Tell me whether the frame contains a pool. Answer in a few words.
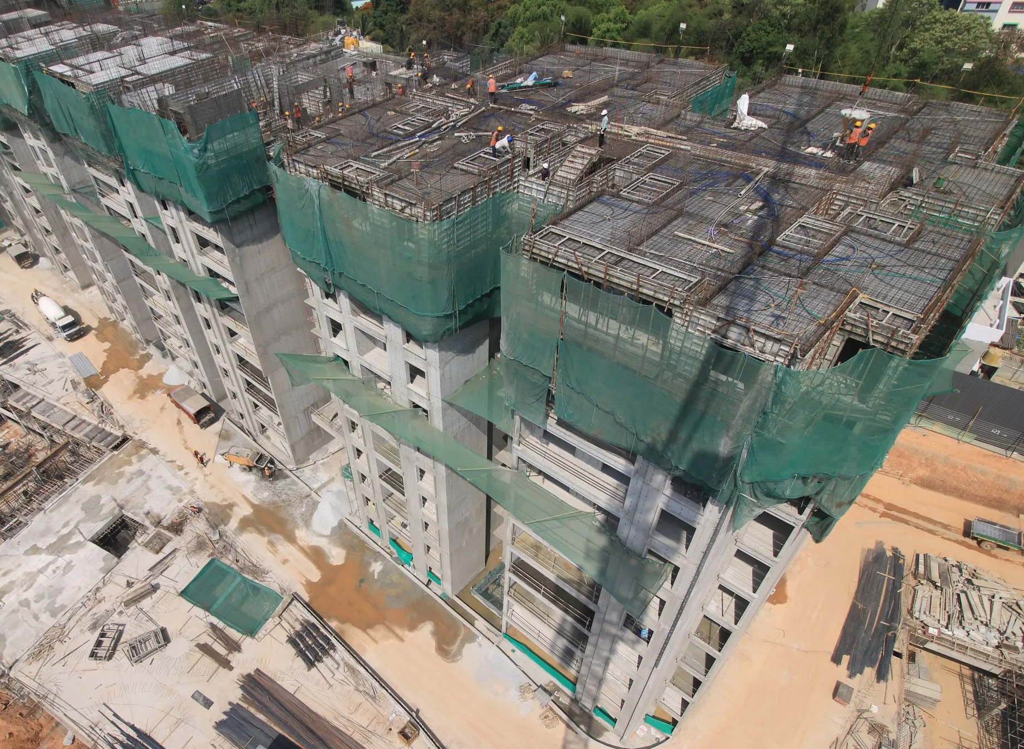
No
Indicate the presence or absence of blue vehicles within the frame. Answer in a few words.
No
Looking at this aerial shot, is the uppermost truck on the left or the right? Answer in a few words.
left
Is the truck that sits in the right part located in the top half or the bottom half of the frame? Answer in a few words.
bottom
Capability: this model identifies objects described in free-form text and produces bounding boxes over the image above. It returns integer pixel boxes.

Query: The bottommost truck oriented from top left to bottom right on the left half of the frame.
[156,373,216,429]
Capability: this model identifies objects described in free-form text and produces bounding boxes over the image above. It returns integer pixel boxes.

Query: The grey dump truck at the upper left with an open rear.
[0,230,32,267]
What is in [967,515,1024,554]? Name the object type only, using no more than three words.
truck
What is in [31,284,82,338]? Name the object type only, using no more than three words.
truck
